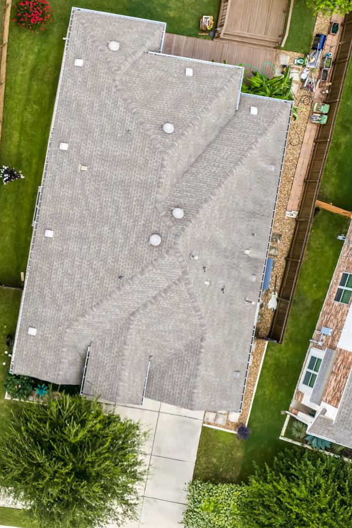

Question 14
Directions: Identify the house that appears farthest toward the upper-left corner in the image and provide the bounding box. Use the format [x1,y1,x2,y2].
[8,4,294,411]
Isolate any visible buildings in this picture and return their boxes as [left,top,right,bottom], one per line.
[8,4,294,411]
[288,217,352,451]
